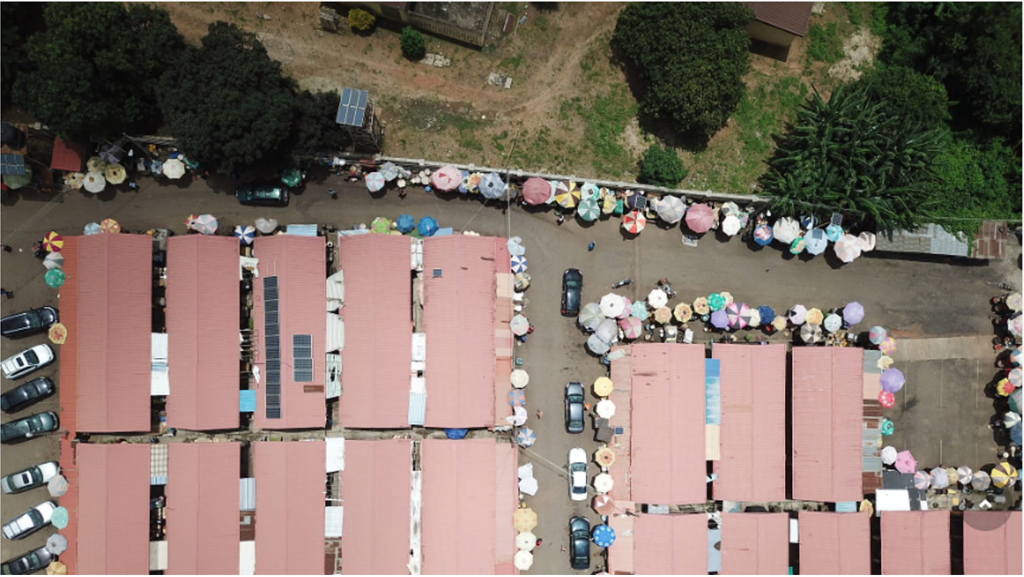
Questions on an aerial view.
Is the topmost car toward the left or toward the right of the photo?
left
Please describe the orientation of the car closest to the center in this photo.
from top to bottom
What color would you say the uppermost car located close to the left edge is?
black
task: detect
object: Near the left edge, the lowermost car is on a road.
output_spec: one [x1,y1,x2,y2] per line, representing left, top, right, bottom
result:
[0,539,55,574]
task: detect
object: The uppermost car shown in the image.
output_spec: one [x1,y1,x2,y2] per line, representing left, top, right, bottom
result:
[235,182,291,209]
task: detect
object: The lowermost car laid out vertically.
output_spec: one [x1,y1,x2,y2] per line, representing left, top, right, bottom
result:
[568,515,593,571]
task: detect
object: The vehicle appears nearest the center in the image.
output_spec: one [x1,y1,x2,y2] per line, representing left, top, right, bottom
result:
[560,267,585,318]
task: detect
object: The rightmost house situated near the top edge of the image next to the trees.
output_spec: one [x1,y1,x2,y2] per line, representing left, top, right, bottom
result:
[725,0,816,51]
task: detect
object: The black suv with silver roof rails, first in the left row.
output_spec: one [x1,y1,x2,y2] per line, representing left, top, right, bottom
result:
[0,305,57,338]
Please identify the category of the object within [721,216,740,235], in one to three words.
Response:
umbrella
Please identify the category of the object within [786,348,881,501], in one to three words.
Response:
building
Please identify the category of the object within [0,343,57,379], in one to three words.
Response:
car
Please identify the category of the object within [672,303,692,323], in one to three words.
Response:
umbrella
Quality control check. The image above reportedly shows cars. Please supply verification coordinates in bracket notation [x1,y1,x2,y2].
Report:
[568,515,593,571]
[235,182,291,209]
[566,447,591,501]
[0,462,60,493]
[0,377,56,413]
[0,502,57,540]
[563,381,588,433]
[0,411,59,442]
[0,343,57,379]
[0,305,57,338]
[560,267,585,318]
[0,539,55,574]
